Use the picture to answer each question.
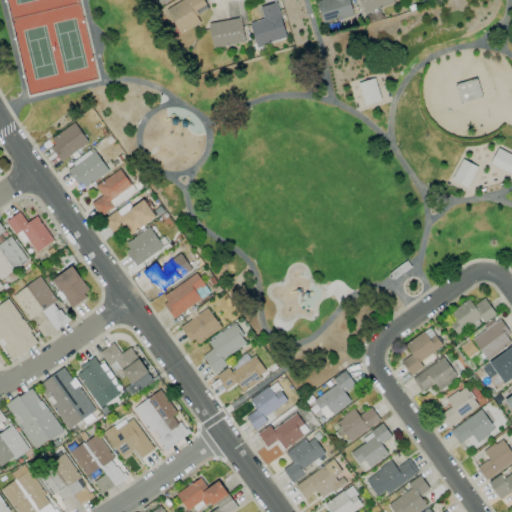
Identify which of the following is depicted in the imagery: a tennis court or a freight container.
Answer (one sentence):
This aerial view contains a tennis court.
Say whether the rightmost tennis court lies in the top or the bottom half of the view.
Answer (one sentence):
The rightmost tennis court sits in the top half of the picture.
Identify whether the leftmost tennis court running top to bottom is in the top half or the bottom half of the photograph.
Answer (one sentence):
The leftmost tennis court running top to bottom sits in the top half of the picture.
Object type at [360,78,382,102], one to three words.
building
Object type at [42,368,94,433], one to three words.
house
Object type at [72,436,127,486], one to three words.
house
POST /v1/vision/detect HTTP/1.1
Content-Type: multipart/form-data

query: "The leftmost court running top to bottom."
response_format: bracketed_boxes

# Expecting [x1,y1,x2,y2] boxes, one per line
[24,25,59,80]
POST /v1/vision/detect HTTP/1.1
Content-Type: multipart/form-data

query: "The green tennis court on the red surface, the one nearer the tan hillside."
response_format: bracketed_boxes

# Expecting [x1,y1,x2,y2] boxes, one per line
[54,18,88,73]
